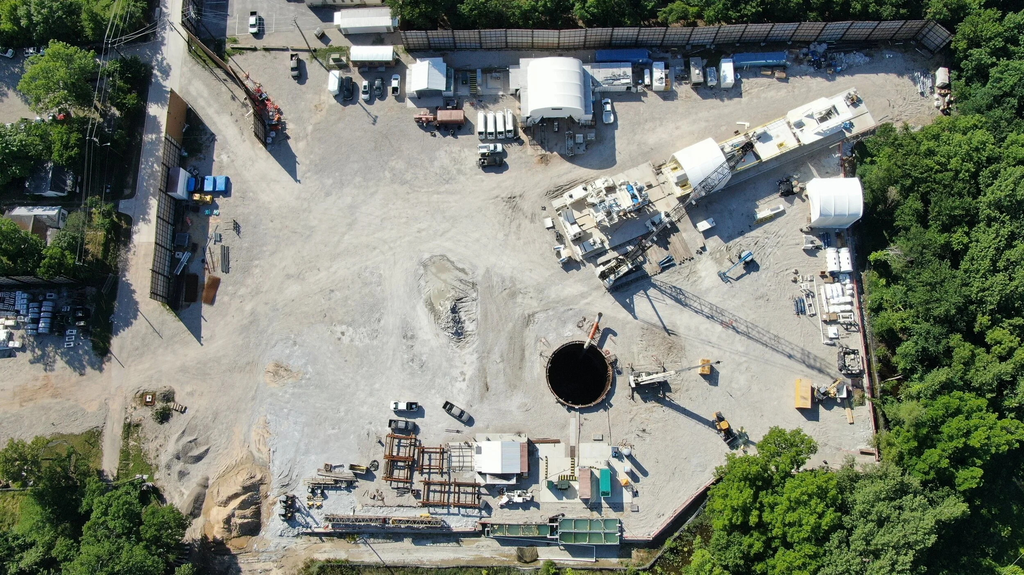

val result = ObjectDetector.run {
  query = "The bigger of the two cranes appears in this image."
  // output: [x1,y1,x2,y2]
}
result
[590,115,776,296]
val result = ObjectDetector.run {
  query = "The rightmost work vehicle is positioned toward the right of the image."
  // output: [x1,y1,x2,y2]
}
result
[812,377,849,405]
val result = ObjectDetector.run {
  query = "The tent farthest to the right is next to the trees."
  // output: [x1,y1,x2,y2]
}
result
[801,182,864,229]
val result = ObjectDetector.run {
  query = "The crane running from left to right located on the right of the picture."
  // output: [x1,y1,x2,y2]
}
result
[625,359,722,402]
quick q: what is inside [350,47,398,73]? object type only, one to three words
building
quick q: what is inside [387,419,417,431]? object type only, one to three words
vehicle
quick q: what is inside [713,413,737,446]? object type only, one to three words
work vehicle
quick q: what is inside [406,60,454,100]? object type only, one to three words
shed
